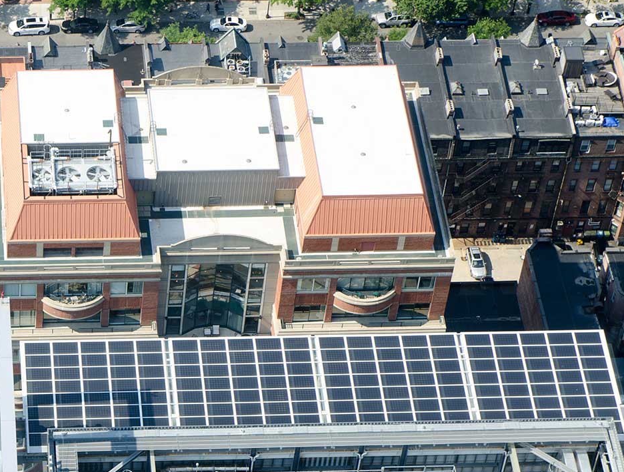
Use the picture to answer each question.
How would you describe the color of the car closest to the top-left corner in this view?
white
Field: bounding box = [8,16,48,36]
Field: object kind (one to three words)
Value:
car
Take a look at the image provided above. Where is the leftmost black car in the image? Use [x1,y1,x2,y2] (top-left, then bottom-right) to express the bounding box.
[60,18,97,34]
